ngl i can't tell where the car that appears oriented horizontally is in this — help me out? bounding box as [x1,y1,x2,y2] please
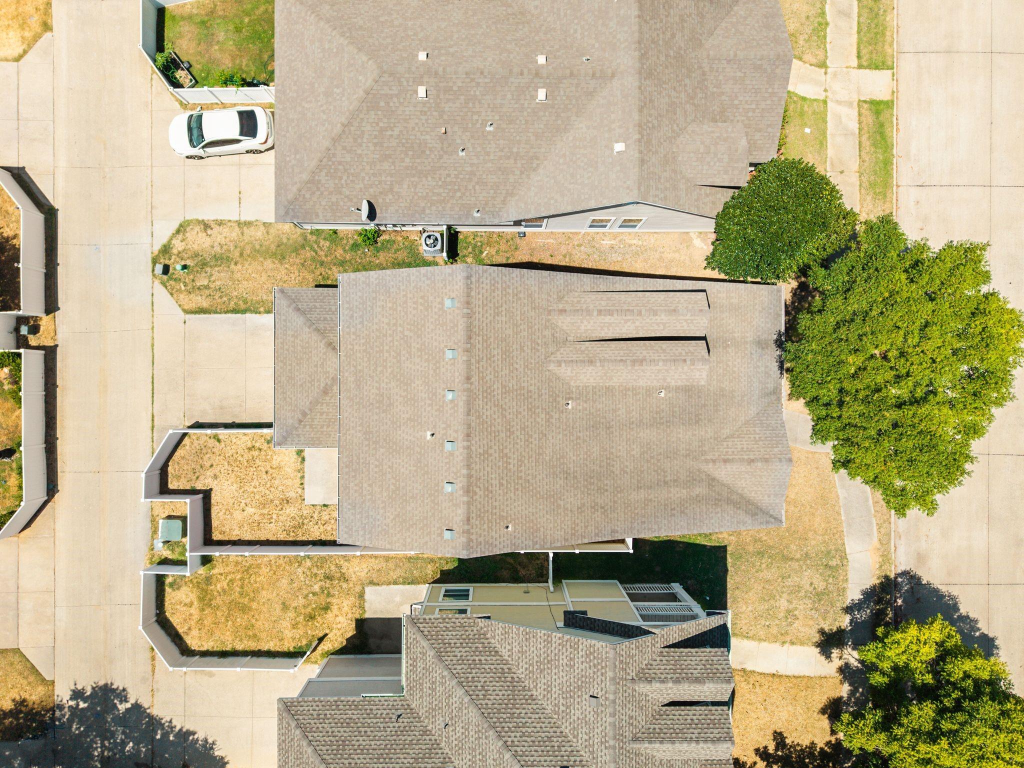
[168,109,274,162]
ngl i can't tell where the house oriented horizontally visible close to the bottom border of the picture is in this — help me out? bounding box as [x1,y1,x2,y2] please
[275,578,735,768]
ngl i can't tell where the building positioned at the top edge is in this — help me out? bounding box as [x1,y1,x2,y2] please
[273,0,794,233]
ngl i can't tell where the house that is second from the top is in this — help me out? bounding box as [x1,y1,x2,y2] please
[273,264,794,559]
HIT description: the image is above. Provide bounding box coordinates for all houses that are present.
[273,264,794,559]
[273,0,794,233]
[275,578,735,768]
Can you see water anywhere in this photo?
No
